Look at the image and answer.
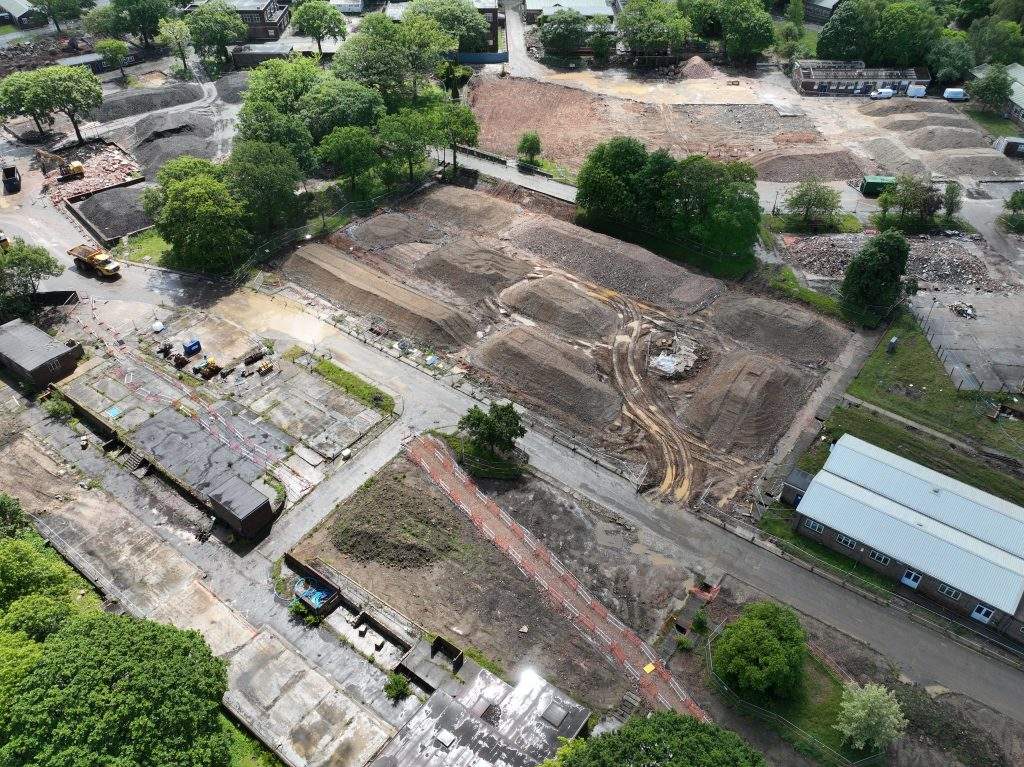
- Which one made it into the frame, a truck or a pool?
truck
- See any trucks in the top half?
Yes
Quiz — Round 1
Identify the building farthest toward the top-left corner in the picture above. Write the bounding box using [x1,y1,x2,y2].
[0,3,50,31]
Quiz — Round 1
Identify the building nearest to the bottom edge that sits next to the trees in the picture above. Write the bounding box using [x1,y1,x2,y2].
[369,668,591,767]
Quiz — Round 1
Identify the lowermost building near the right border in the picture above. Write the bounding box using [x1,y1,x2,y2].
[795,431,1024,654]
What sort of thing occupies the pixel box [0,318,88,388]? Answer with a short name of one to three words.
building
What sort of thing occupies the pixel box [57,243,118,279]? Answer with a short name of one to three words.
truck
